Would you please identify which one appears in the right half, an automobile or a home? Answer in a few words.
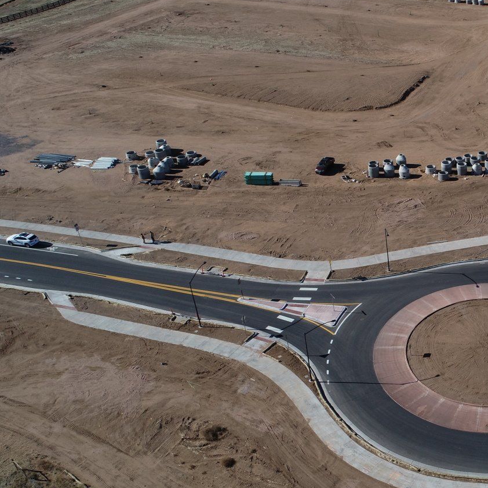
automobile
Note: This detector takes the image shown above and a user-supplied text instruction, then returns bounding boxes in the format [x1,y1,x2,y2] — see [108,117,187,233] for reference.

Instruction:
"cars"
[314,155,337,173]
[4,230,40,248]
